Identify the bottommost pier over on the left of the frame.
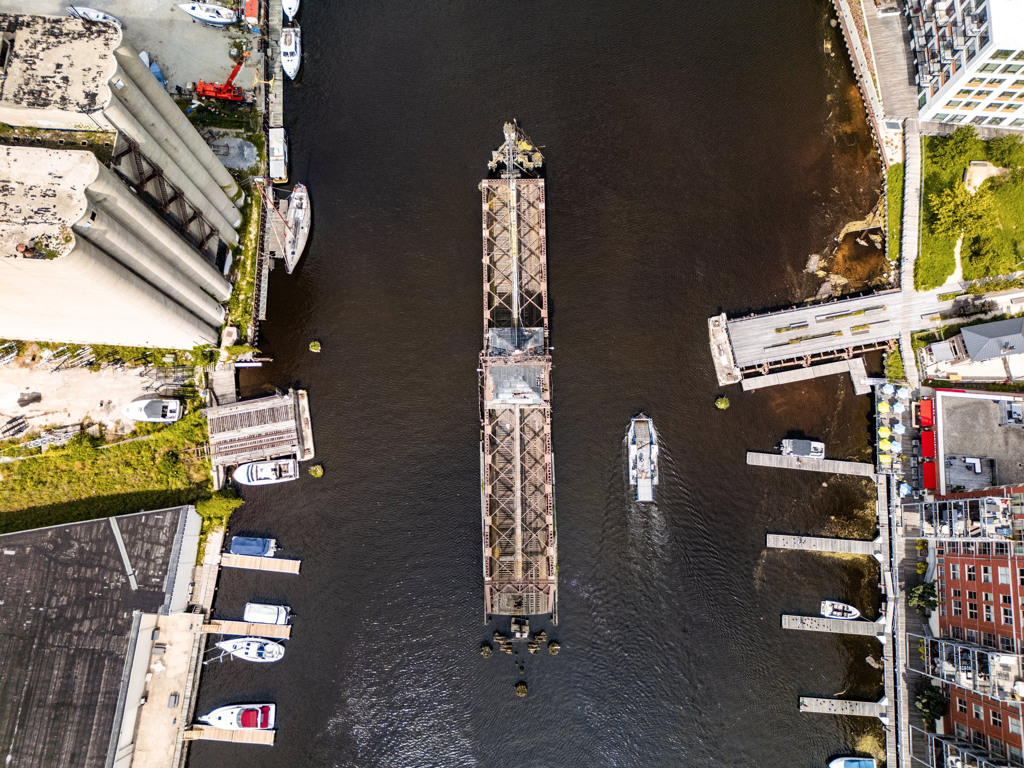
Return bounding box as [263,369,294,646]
[195,723,277,747]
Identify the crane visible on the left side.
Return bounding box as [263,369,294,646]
[194,50,250,107]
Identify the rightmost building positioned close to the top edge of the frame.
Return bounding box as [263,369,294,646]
[893,0,1024,126]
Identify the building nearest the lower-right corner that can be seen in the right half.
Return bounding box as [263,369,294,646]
[904,478,1024,768]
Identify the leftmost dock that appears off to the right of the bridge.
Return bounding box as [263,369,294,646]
[704,313,742,388]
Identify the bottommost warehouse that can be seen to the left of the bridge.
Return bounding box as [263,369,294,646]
[0,505,202,768]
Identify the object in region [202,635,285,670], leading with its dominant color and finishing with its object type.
white boat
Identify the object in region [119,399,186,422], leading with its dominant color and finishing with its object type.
white boat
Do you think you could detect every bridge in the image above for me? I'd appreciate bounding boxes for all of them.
[475,142,558,637]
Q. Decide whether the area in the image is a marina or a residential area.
marina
